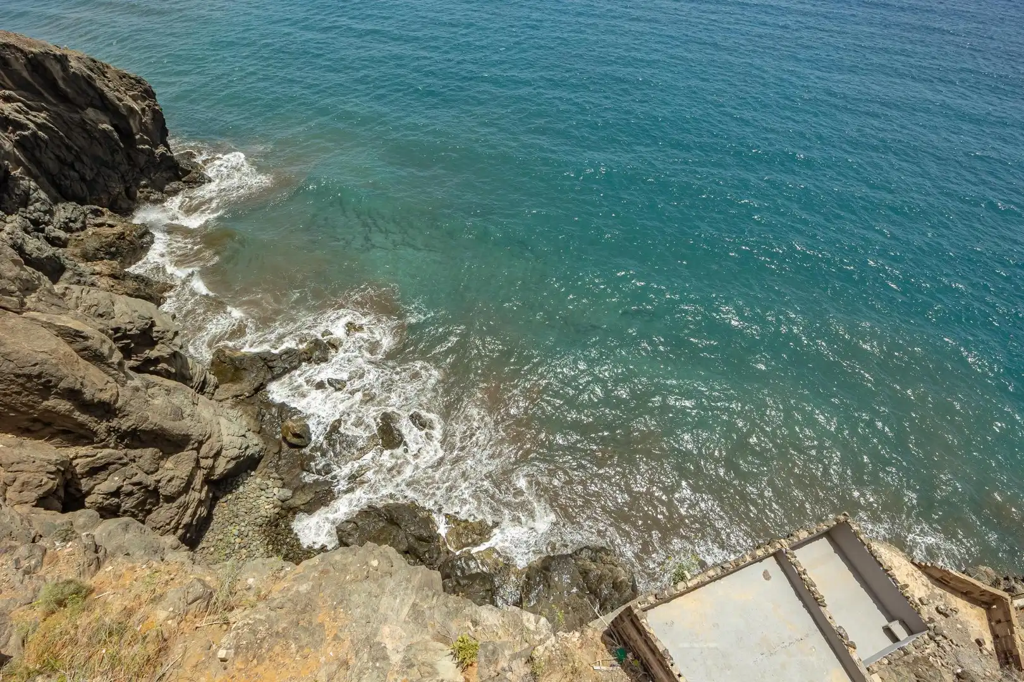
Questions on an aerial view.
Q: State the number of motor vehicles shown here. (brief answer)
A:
none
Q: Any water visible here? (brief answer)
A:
Yes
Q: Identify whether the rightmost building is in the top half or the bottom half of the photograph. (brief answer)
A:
bottom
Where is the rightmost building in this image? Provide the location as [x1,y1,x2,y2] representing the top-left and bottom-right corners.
[615,518,936,682]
